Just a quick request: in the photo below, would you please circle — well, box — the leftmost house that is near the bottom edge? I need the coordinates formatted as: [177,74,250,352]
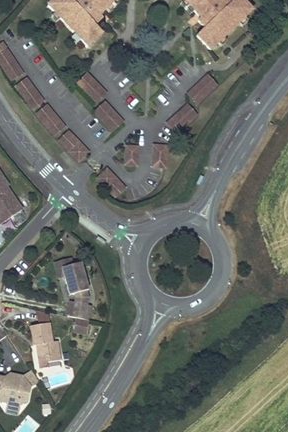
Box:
[0,370,38,416]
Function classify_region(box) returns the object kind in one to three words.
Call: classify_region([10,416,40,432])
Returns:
swimming pool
